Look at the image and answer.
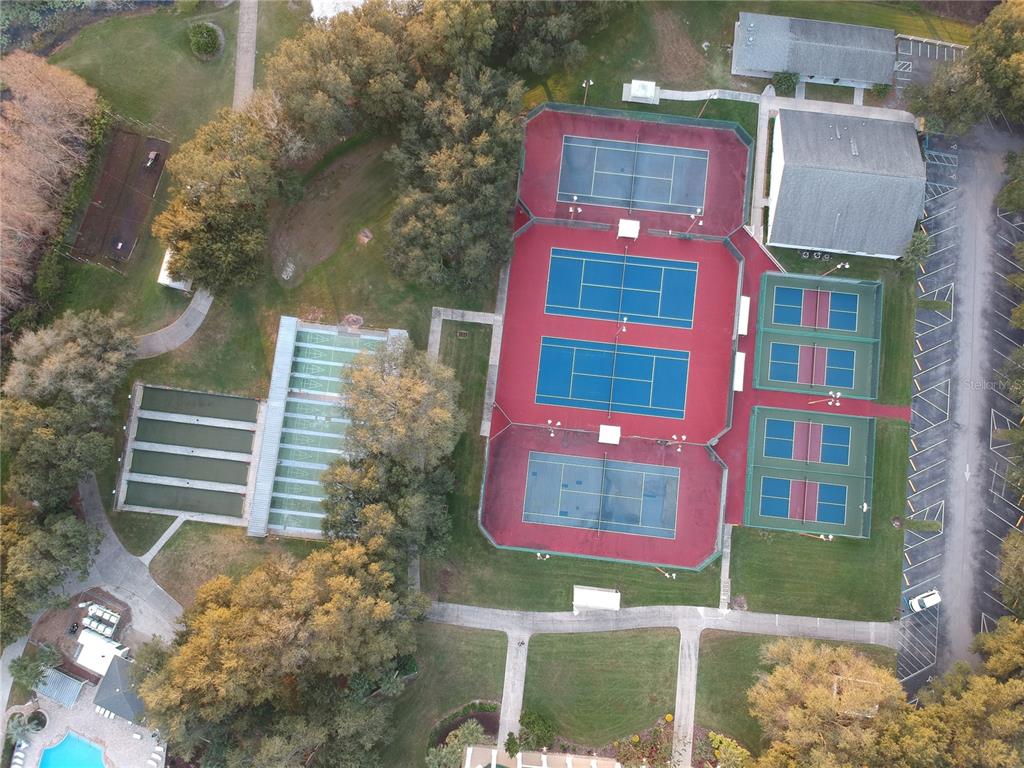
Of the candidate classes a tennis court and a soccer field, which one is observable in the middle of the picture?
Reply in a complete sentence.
The one visible in the middle of the picture is a tennis court.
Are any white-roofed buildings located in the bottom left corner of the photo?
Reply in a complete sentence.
Yes, in the bottom left corner of the photo there is a white-roofed building.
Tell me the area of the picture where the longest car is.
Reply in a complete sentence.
Look in the bottom right portion of the view to spot the longest car.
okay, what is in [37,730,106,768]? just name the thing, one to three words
swimming pool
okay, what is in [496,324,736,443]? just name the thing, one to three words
tennis court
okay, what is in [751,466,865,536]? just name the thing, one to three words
sports court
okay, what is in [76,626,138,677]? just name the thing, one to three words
building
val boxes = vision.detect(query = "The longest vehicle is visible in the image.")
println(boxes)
[910,592,945,612]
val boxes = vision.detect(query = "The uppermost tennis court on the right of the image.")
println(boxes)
[520,109,749,232]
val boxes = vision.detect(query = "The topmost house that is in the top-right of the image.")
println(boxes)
[729,12,897,92]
